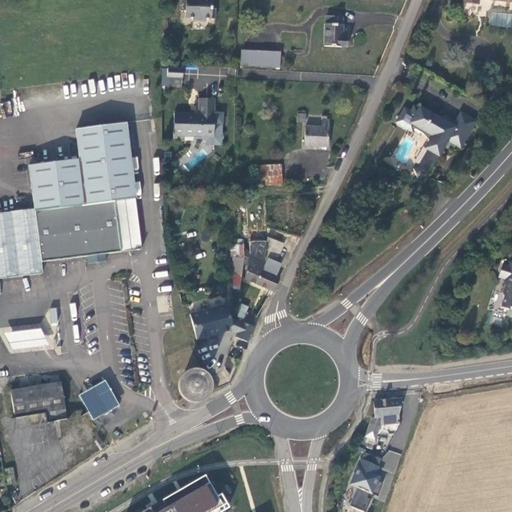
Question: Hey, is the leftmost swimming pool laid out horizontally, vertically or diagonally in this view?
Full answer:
The leftmost swimming pool is laid out diagonally.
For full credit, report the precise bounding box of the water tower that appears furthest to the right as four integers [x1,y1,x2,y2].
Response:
[178,368,214,404]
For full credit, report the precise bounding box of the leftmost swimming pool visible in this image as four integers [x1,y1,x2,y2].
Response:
[185,148,209,172]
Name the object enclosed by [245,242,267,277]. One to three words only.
house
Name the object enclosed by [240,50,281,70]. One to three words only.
barn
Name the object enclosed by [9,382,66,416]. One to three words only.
shed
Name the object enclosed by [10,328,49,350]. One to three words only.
building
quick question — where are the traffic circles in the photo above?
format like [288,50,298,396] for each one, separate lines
[244,322,360,438]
